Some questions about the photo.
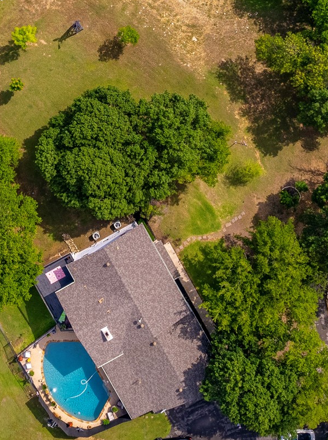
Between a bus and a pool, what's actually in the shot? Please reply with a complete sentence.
There is a pool in the scene.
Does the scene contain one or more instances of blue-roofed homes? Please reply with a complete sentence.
No, I find no blue-roofed home anywhere in the image.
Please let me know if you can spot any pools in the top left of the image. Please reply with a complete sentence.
No, no pool is visible in the top left of the image.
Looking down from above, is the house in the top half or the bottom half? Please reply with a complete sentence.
The bottom half of the photo is where the house is.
